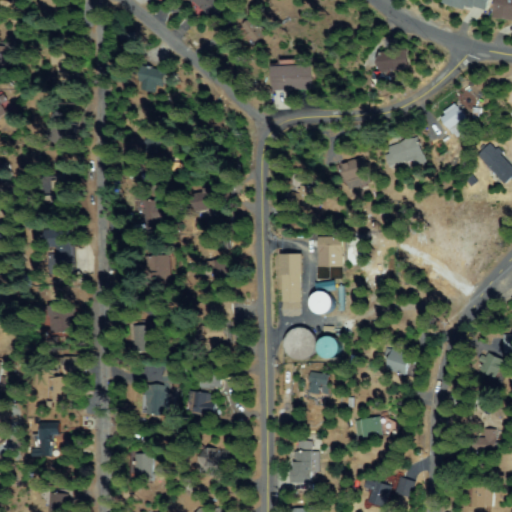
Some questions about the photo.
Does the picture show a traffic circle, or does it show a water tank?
water tank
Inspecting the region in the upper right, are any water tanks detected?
No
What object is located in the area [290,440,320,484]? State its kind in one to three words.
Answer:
house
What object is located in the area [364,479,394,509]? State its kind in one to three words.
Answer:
house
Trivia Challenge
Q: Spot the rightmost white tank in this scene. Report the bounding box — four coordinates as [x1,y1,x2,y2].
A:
[308,290,336,315]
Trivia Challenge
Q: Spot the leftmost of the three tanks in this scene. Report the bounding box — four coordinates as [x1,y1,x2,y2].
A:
[284,326,318,360]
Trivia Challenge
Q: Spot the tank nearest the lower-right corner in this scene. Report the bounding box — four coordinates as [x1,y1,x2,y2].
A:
[316,334,342,360]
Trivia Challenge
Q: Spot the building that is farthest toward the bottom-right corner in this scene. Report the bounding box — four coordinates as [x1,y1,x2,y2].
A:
[473,428,500,449]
